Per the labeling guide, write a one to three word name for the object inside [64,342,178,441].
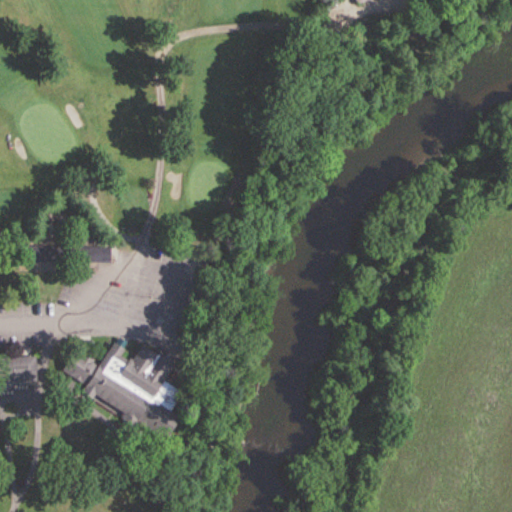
building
